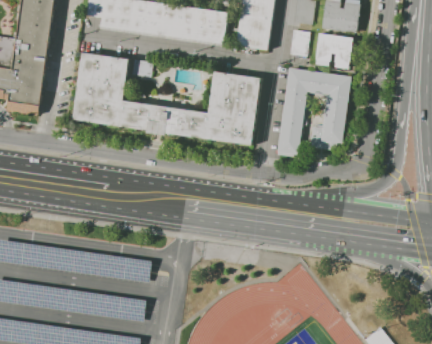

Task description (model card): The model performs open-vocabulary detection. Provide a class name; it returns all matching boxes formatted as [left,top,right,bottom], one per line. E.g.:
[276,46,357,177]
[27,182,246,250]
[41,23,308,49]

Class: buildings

[322,0,360,33]
[136,60,153,78]
[72,52,261,145]
[297,0,316,26]
[290,30,311,58]
[278,68,352,156]
[316,34,354,70]
[237,0,276,51]
[88,0,228,45]
[0,0,54,115]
